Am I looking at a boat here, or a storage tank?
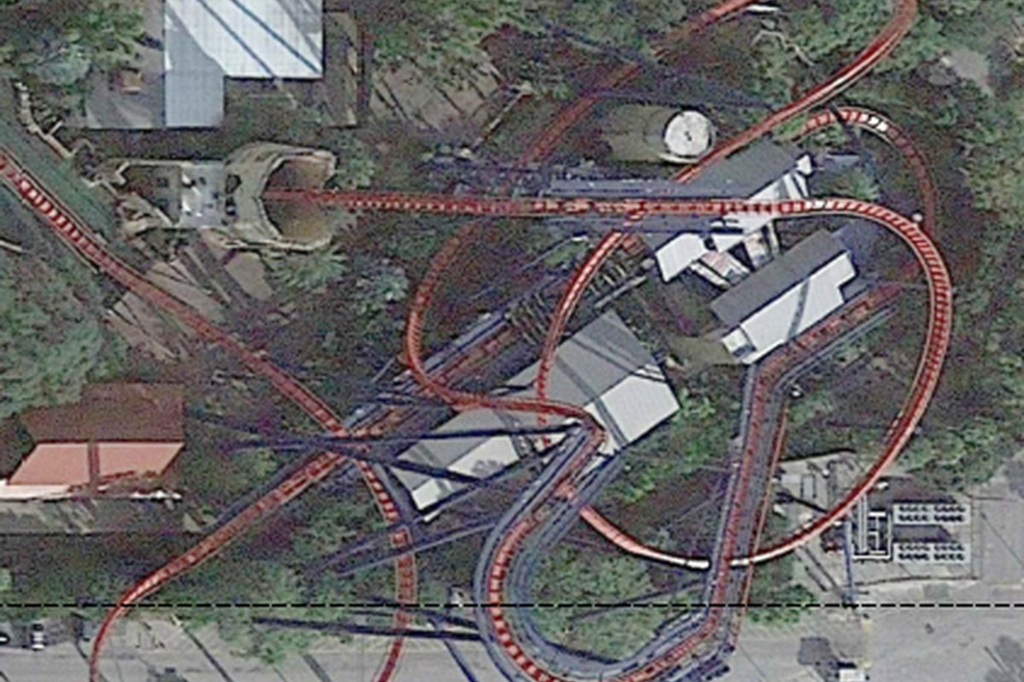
storage tank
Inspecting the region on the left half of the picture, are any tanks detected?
No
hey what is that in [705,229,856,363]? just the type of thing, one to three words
building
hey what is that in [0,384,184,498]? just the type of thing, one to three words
house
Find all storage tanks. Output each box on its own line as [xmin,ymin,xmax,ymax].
[605,105,713,166]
